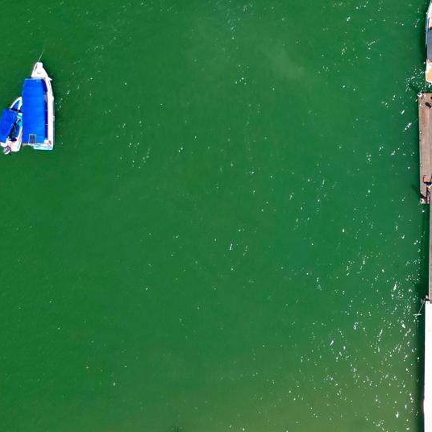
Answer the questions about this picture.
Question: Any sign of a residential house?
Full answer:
No, there is no residential house in the image.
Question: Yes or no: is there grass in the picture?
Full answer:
No, no grass is visible.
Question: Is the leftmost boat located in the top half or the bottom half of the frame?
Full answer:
Seen from above, the leftmost boat lies in the top half of the view.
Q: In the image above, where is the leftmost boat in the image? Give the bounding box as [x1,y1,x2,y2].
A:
[0,96,23,155]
